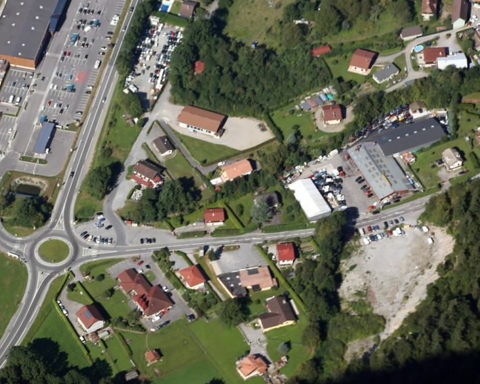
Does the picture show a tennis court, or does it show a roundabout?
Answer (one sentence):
Visible in the photo is a roundabout.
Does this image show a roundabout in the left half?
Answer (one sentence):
Yes, looking in the left half, one can make out a roundabout.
